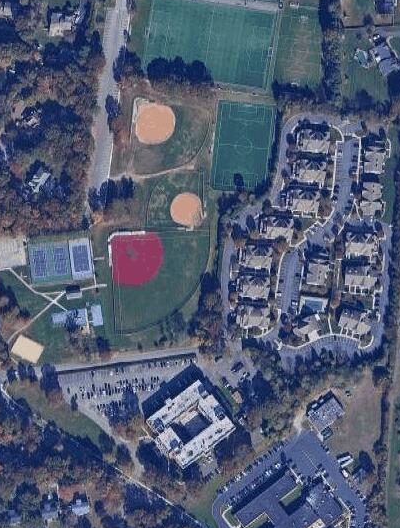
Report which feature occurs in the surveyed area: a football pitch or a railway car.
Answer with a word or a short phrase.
football pitch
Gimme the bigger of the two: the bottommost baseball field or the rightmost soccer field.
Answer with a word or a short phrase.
the baseball field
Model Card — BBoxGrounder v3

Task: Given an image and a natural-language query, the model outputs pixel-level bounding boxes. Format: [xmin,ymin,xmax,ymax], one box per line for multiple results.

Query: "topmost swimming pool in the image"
[356,47,369,66]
